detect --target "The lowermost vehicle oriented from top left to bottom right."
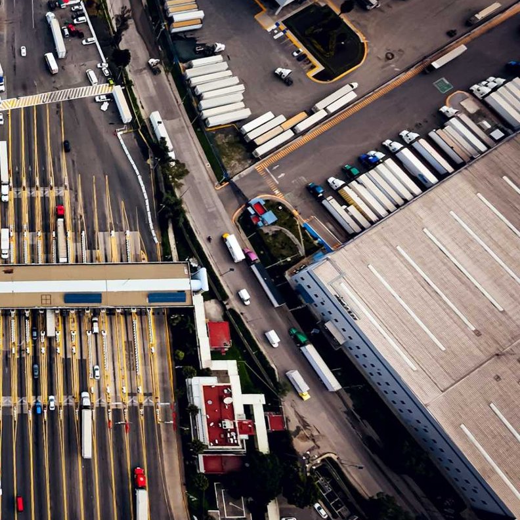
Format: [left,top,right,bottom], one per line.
[313,503,326,519]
